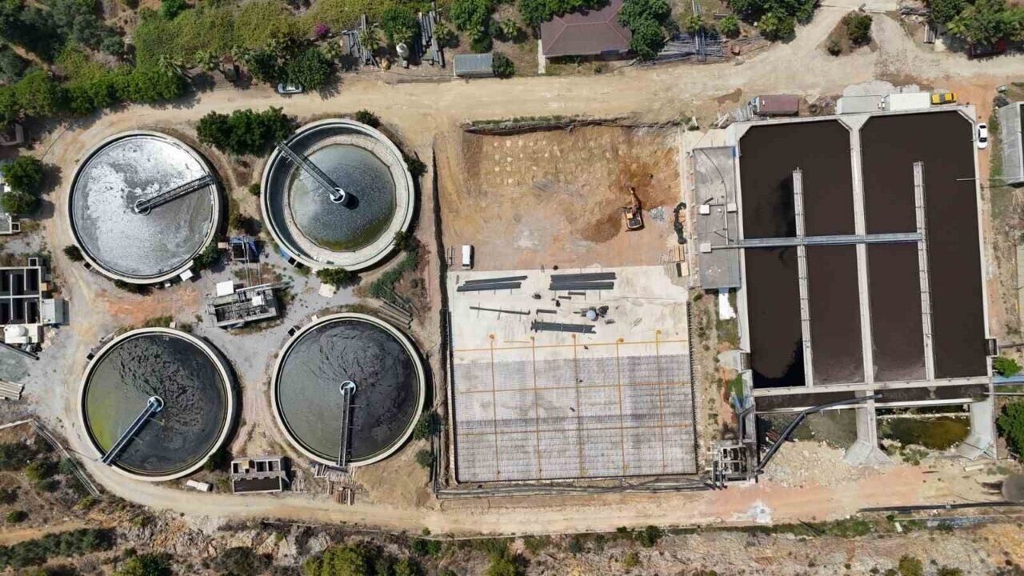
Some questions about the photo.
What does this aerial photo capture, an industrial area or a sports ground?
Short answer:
industrial area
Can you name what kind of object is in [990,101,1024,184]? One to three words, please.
shed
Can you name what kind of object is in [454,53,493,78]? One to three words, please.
shed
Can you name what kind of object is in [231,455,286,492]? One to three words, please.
storage tank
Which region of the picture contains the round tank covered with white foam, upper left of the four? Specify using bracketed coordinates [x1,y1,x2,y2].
[67,130,226,283]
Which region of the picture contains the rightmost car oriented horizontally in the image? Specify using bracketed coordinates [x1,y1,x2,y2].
[932,91,958,103]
